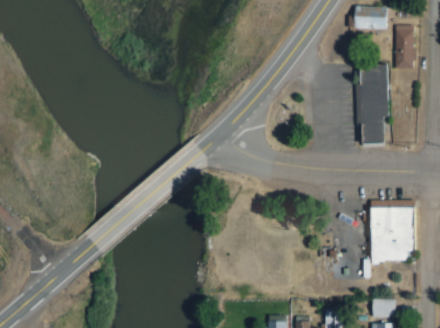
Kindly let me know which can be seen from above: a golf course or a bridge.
bridge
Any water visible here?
Yes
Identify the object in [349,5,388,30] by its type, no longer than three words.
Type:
house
